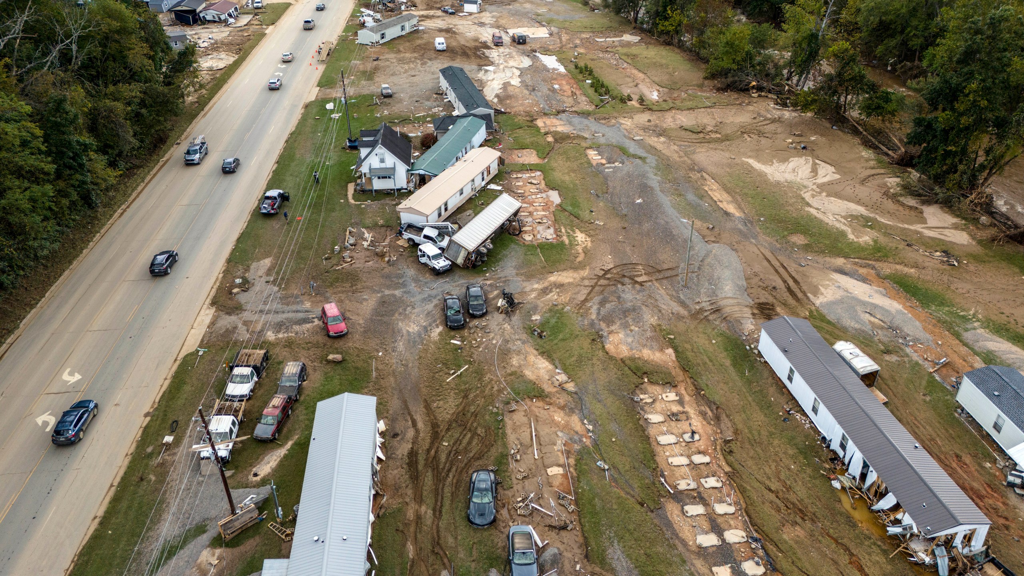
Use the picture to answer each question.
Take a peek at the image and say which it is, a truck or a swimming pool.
truck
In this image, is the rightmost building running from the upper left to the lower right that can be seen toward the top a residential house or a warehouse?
residential house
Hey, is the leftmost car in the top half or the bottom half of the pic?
bottom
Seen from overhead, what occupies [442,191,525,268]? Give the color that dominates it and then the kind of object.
white trailer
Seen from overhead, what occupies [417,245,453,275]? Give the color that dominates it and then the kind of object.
white car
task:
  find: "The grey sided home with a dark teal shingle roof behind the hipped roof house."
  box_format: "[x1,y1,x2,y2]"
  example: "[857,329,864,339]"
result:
[437,65,496,131]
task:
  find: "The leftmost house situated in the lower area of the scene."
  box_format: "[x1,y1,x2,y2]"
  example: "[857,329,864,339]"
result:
[286,391,391,576]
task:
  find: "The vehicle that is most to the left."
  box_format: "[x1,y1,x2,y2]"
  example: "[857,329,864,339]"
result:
[49,399,98,446]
